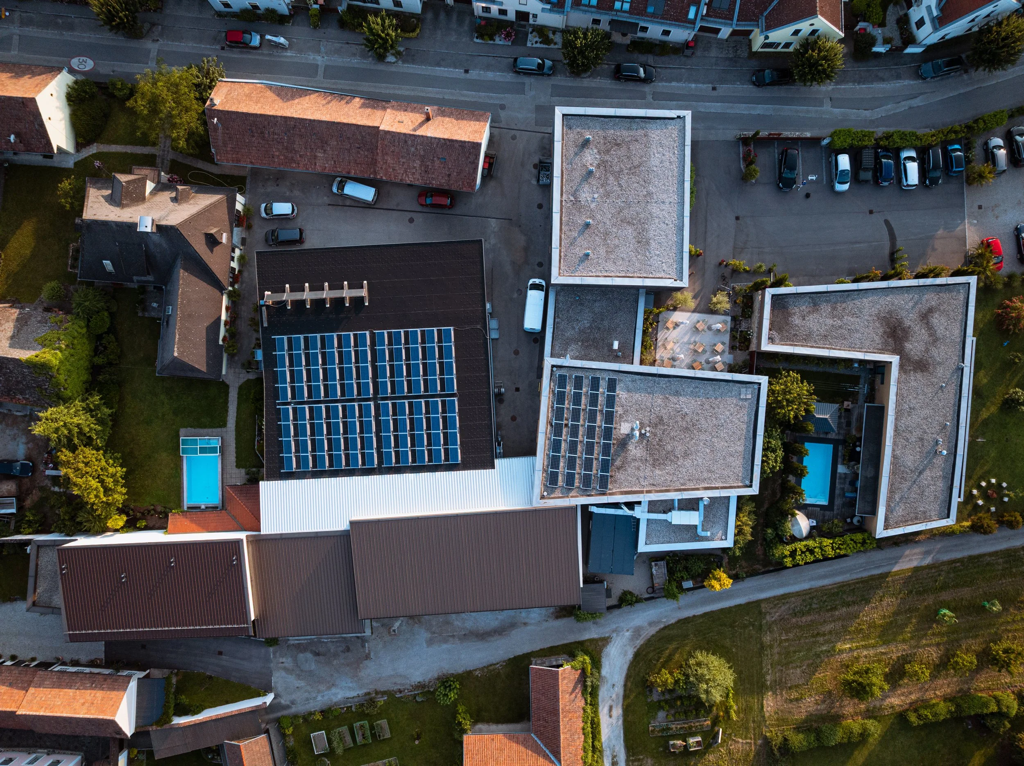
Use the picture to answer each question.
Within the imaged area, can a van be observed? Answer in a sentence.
Yes, the image includes a van.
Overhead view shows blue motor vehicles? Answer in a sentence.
Yes, a blue motor vehicle is visible in the scene.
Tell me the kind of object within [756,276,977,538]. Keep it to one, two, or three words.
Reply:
house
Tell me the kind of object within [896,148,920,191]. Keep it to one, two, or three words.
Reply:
car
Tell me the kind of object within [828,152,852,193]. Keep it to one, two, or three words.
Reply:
car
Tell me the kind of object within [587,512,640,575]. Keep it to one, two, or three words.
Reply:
shed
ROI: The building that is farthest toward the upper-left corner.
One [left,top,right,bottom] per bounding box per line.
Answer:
[0,62,82,164]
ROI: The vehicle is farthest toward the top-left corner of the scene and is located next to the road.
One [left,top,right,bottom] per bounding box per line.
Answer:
[224,28,265,51]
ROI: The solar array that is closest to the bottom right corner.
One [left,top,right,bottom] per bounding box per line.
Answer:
[544,373,620,492]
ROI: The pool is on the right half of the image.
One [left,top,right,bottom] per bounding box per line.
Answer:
[794,435,845,512]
